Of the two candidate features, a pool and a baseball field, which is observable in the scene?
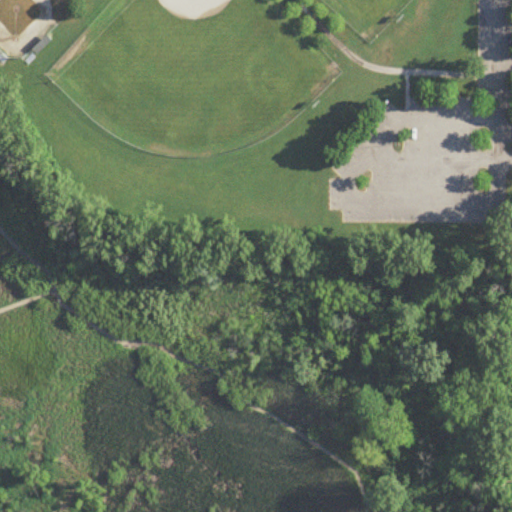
baseball field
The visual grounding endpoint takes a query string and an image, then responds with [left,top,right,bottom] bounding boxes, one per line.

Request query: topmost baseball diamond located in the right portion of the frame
[322,0,412,42]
